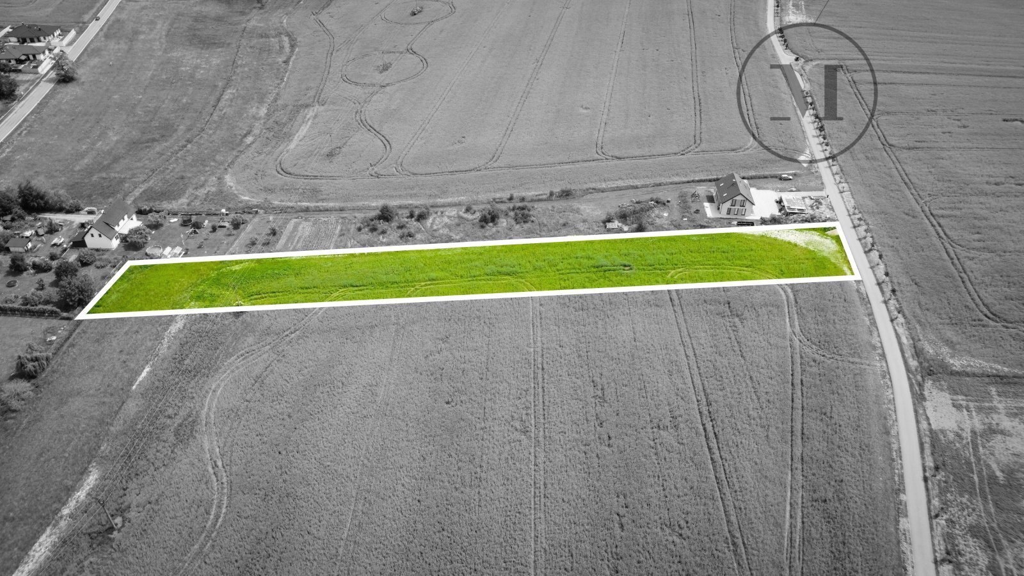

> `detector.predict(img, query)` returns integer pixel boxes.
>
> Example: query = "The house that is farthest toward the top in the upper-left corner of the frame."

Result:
[4,23,67,41]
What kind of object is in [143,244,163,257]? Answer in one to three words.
swimming pool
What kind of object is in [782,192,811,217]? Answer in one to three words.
building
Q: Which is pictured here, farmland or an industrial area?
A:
farmland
